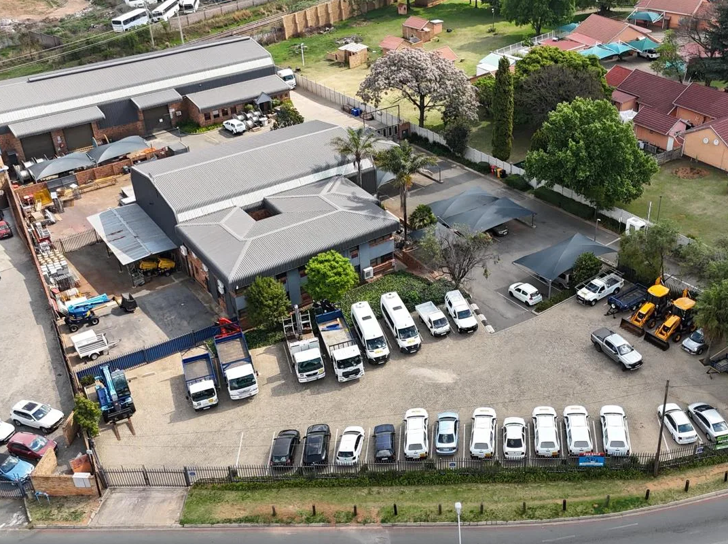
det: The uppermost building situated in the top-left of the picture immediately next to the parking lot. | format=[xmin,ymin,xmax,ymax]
[0,36,291,165]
